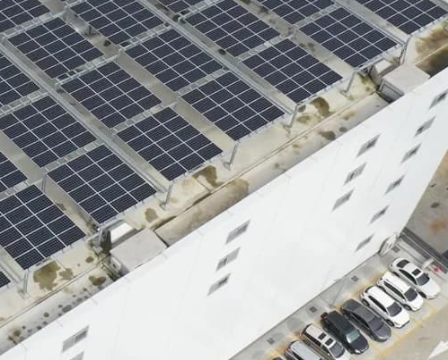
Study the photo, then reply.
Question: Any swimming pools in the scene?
No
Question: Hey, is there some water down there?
No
